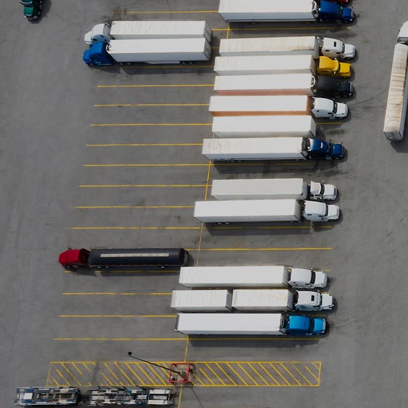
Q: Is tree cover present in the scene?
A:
No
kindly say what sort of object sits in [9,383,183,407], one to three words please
truck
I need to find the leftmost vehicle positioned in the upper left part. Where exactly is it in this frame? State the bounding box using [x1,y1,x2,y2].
[18,0,40,21]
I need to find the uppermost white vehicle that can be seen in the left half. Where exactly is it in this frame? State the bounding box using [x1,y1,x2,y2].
[83,21,214,45]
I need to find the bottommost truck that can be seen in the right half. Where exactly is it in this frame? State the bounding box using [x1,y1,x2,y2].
[173,313,327,336]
